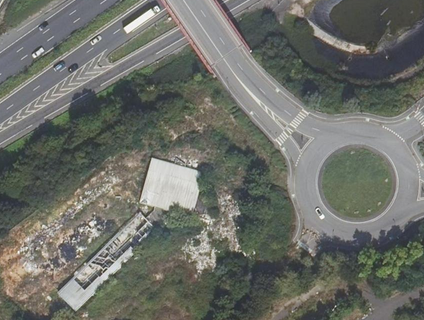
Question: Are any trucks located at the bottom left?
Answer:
No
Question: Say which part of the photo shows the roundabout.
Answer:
right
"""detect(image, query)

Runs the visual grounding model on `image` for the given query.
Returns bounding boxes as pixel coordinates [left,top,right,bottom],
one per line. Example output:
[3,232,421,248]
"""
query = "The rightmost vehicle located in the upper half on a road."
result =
[123,4,162,35]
